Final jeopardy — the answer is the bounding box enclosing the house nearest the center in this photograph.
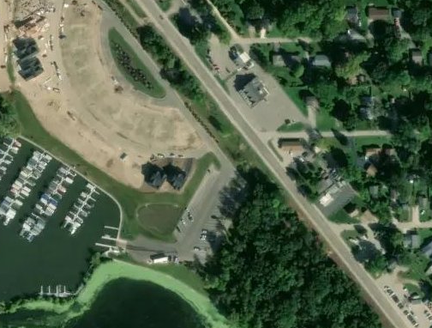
[166,165,189,188]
